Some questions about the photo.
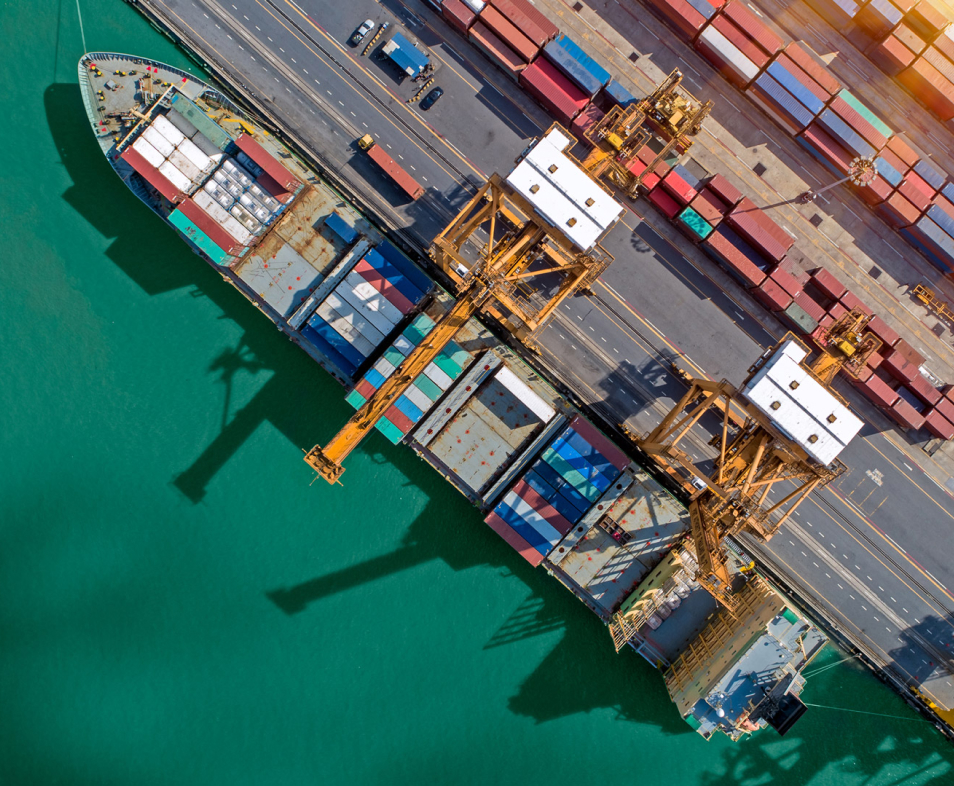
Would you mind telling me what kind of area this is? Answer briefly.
port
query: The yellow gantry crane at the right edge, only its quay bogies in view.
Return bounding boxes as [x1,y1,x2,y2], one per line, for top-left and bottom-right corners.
[917,692,954,731]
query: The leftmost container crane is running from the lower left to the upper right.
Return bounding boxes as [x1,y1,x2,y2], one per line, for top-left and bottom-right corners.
[303,101,652,487]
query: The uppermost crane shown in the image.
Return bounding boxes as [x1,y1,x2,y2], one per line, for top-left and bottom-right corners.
[616,66,715,202]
